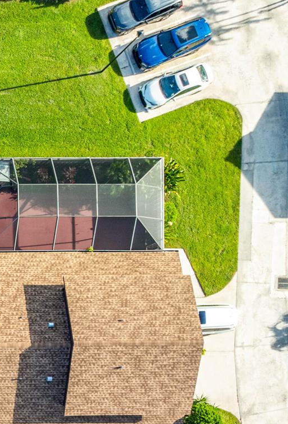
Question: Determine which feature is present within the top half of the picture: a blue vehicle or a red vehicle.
blue vehicle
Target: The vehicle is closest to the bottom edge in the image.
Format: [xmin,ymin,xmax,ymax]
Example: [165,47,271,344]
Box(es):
[195,305,240,335]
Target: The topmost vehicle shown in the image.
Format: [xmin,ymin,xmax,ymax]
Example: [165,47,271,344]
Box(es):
[104,0,185,38]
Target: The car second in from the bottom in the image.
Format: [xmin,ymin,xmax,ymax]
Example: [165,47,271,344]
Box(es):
[135,62,215,110]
